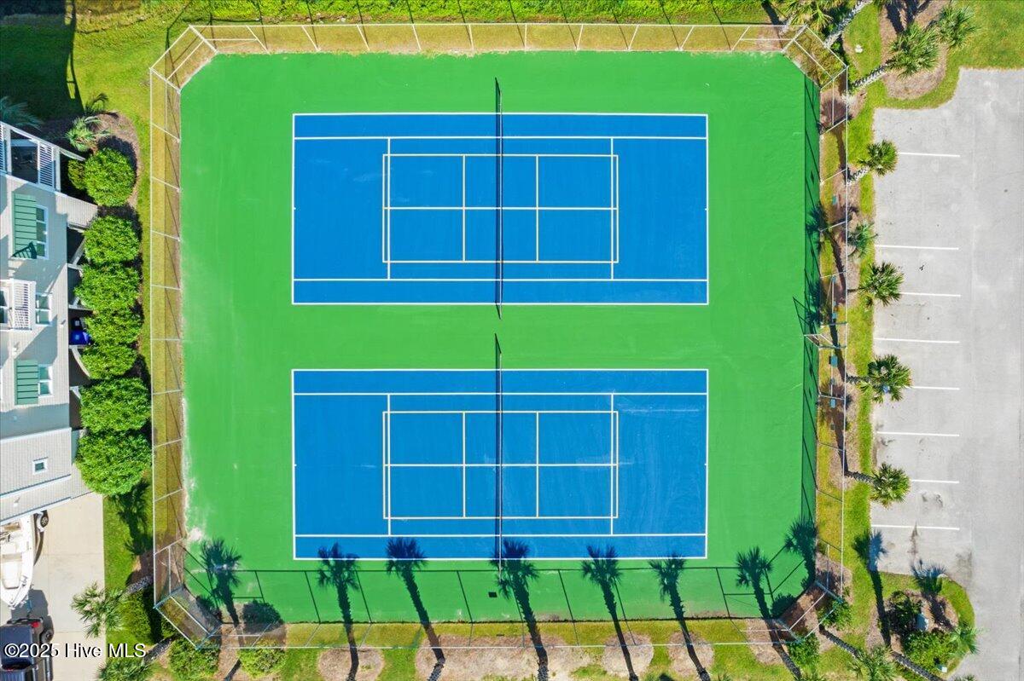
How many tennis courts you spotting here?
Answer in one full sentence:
The picture shows 2 tennis courts.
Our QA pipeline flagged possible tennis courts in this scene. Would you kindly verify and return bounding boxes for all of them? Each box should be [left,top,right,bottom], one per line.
[292,112,709,305]
[292,368,709,561]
